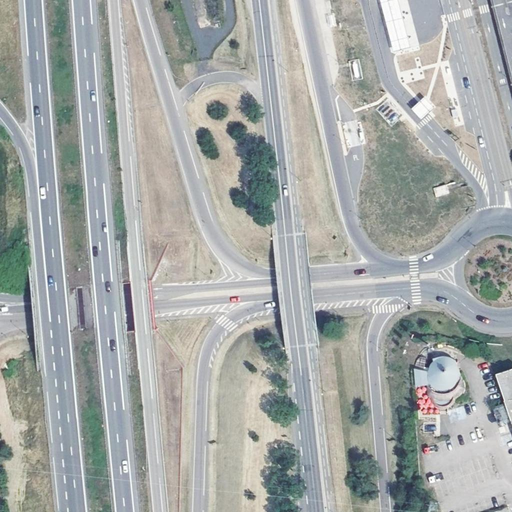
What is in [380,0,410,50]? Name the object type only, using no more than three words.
building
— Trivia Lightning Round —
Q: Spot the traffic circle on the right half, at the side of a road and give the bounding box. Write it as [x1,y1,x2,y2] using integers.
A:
[436,208,512,336]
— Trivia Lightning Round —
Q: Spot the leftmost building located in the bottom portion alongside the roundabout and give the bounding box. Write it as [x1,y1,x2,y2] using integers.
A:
[414,347,469,402]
